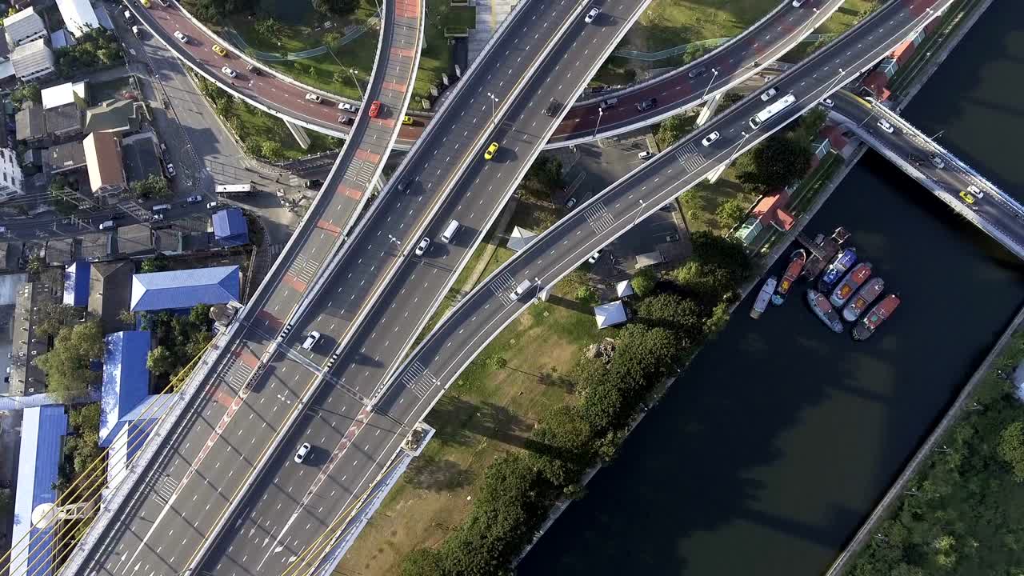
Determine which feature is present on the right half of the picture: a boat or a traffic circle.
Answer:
boat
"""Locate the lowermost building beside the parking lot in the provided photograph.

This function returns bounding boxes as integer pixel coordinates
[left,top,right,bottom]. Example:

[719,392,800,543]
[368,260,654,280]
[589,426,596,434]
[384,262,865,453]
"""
[594,300,626,330]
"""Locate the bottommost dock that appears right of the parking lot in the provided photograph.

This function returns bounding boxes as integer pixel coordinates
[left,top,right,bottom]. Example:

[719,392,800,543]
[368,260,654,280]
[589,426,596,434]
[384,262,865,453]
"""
[799,229,850,282]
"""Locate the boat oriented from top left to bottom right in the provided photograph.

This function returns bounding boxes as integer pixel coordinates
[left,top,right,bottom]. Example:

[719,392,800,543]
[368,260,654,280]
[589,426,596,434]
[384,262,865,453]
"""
[805,286,845,333]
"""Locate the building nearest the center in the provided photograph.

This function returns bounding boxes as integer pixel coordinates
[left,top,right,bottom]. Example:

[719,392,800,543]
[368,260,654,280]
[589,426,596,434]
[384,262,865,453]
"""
[506,225,537,254]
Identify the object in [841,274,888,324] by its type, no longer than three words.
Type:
boat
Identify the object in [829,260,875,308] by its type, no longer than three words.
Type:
boat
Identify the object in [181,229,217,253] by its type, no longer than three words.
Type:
house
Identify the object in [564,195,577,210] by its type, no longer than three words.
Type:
vehicle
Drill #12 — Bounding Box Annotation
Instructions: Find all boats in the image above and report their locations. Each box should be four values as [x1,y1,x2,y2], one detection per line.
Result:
[851,292,904,343]
[772,247,804,306]
[817,245,857,293]
[829,260,875,308]
[805,286,845,333]
[841,274,888,324]
[750,274,777,320]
